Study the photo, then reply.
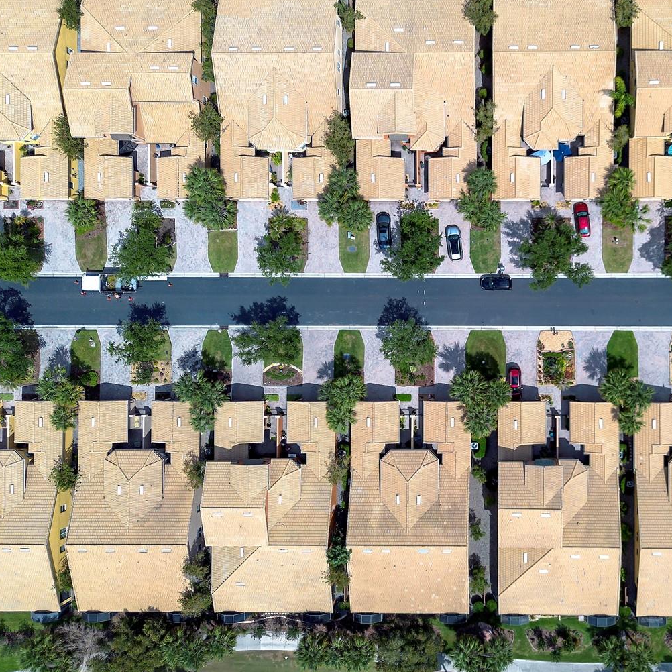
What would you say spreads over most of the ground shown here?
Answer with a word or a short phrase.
buildings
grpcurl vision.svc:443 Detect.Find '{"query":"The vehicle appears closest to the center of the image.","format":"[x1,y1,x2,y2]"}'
[374,213,391,247]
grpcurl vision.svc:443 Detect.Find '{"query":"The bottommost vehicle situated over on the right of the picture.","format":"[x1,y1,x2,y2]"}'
[507,365,523,398]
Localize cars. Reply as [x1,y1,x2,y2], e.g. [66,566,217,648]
[374,213,391,247]
[507,365,523,398]
[572,202,589,236]
[445,224,462,260]
[480,274,513,290]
